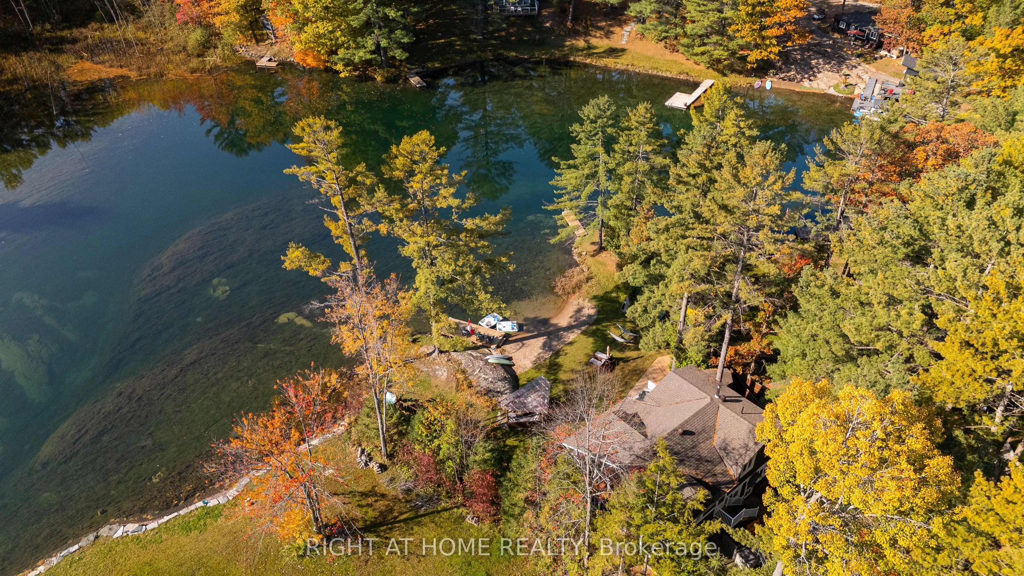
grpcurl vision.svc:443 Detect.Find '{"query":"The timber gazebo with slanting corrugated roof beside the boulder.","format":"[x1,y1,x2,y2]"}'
[500,375,551,434]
